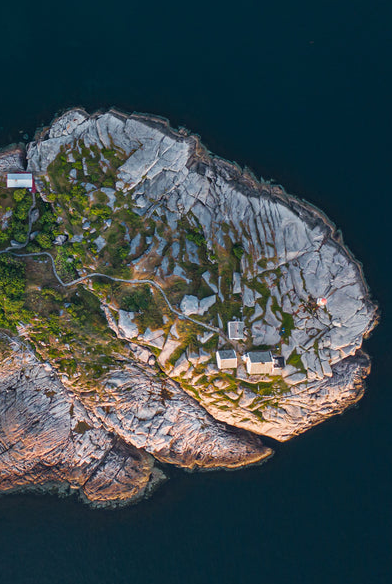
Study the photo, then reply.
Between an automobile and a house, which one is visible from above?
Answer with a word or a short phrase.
house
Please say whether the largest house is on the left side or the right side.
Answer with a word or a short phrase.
right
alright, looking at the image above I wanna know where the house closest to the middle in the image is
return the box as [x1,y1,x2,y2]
[225,320,243,340]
